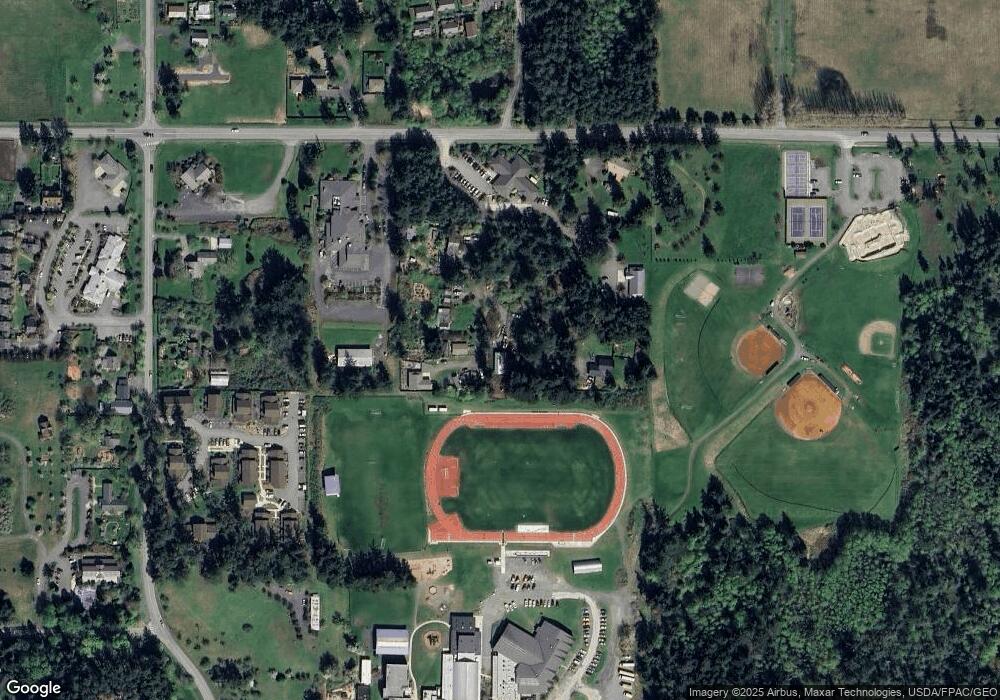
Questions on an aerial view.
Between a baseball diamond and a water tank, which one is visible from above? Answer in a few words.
baseball diamond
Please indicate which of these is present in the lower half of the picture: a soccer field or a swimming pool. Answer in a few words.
soccer field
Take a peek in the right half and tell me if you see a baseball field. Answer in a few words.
Yes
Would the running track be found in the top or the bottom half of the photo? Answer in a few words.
bottom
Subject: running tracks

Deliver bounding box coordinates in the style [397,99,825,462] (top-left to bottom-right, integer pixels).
[426,413,627,547]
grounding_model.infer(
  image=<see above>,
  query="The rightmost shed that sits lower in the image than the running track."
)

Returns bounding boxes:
[573,561,602,574]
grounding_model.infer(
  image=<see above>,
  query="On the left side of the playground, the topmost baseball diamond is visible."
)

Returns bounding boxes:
[685,274,720,307]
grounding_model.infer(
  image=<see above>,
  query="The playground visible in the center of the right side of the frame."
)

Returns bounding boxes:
[775,289,800,329]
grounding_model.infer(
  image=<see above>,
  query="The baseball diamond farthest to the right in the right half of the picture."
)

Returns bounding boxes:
[859,322,896,359]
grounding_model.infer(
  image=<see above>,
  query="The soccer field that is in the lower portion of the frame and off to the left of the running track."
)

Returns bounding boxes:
[324,398,428,552]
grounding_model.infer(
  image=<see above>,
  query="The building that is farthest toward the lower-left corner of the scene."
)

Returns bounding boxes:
[80,557,119,584]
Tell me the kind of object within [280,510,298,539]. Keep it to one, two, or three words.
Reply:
house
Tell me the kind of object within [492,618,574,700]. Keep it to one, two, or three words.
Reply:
building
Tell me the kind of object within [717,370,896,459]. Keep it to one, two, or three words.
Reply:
baseball field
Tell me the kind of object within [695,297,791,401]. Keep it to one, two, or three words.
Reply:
baseball field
